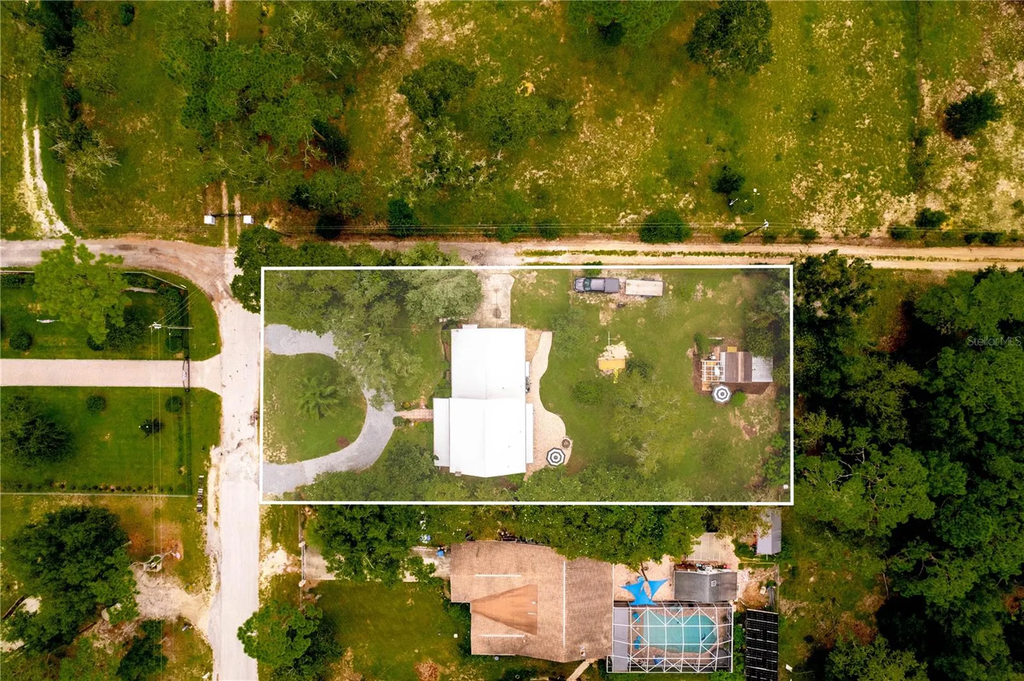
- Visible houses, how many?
2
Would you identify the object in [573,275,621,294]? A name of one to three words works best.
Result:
vehicle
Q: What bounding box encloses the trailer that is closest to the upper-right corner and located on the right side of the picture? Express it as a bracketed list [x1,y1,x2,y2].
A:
[621,278,664,298]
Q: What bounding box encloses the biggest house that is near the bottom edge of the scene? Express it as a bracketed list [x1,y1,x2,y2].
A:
[449,538,614,663]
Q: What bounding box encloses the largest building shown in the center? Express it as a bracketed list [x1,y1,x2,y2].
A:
[434,324,533,477]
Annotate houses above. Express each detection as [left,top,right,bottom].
[449,538,614,663]
[434,324,533,477]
